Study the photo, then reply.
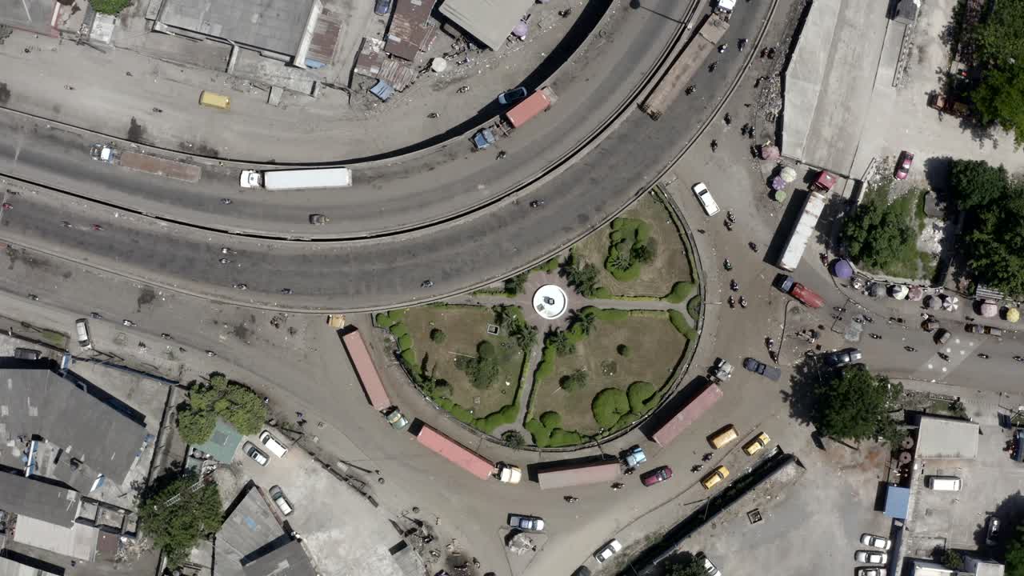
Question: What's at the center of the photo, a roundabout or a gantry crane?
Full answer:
Visible at the center of the photo is a roundabout.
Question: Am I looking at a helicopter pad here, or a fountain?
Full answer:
Visible in the photo is a fountain.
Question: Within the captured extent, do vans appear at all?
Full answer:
Yes, the image includes a van.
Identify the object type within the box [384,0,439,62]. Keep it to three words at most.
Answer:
shed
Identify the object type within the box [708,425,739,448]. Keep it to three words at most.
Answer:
vehicle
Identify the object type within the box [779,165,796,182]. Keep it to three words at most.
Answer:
umbrella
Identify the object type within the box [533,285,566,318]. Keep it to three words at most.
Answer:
fountain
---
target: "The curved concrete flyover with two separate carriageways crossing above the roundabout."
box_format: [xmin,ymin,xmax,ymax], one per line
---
[0,0,779,313]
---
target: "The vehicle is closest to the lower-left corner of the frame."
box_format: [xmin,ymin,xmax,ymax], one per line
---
[12,345,48,360]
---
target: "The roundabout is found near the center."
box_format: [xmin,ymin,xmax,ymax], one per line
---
[369,179,722,460]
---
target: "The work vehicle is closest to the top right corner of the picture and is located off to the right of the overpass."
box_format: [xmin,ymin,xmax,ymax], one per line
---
[921,89,967,119]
